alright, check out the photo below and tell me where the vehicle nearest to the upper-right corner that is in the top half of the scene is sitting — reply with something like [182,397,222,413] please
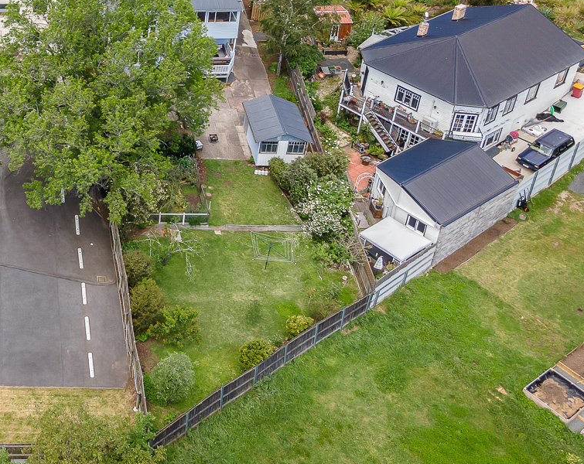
[519,119,579,168]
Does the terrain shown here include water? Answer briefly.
No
